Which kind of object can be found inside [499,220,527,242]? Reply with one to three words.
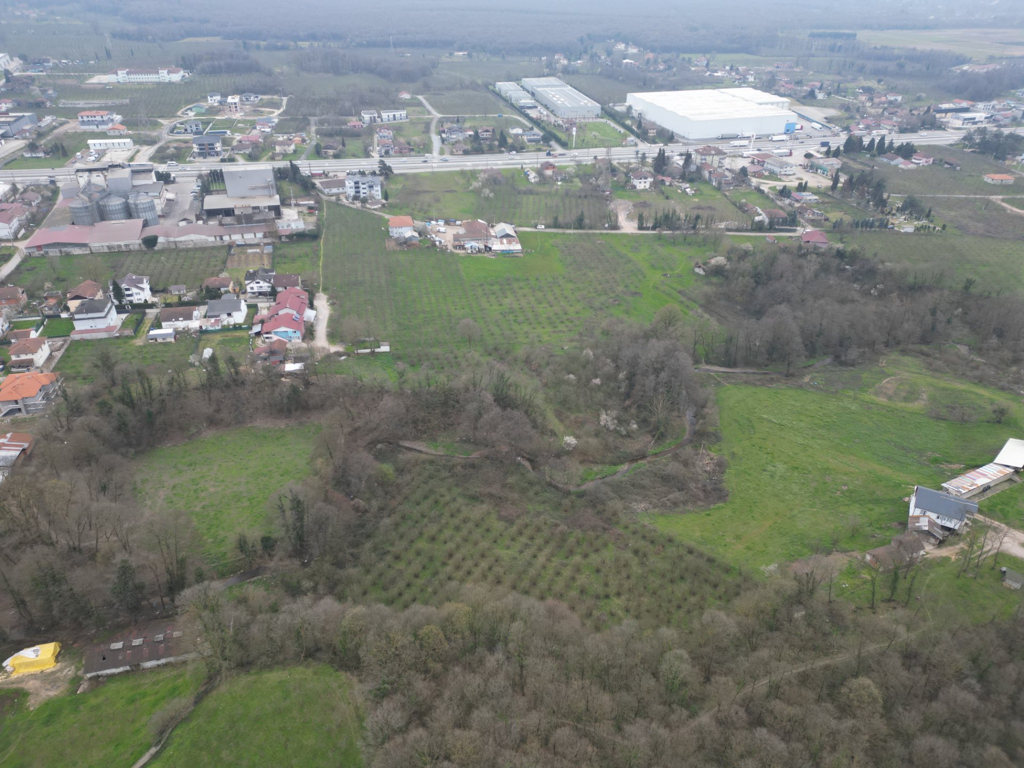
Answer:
barn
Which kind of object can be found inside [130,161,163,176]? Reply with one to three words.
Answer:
building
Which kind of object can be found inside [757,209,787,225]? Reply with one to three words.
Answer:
house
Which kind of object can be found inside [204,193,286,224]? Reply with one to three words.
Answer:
shed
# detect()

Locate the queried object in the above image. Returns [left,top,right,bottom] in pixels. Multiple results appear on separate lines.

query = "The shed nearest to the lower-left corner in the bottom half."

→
[84,616,205,681]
